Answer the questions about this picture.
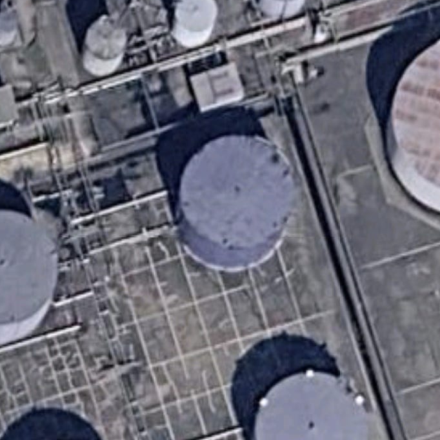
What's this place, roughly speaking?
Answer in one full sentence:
This image shows an industrial area.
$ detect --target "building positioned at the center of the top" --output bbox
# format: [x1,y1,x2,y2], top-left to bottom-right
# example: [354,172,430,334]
[191,63,242,115]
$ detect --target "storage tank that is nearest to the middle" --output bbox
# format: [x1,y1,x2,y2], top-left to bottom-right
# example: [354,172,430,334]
[171,132,295,272]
